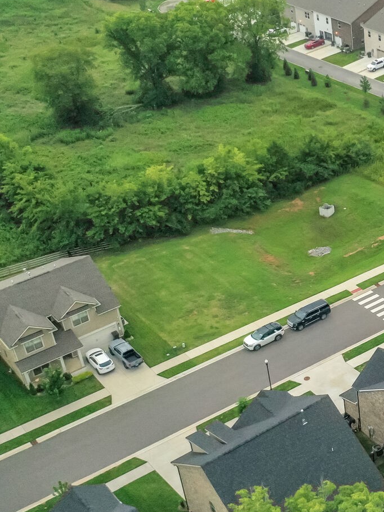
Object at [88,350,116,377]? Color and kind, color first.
white car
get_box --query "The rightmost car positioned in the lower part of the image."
[287,302,333,334]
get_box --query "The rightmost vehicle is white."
[366,56,384,71]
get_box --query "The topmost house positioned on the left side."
[0,254,131,390]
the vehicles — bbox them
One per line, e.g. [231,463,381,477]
[109,340,144,371]
[287,302,333,334]
[304,37,327,48]
[88,350,116,377]
[243,323,286,353]
[366,56,384,71]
